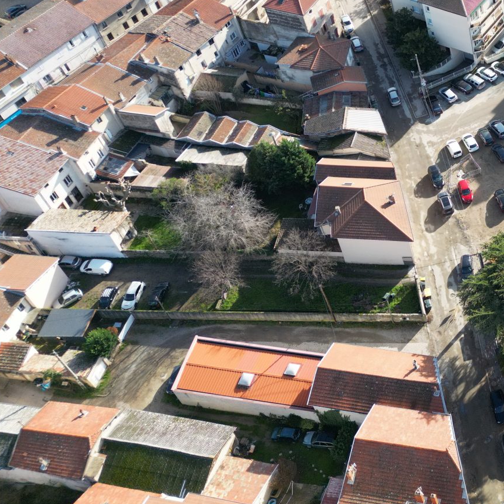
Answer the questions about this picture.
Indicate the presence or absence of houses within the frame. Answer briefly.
Yes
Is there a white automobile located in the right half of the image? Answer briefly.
Yes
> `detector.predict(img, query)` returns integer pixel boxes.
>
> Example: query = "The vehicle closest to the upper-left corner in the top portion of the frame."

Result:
[1,0,30,19]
